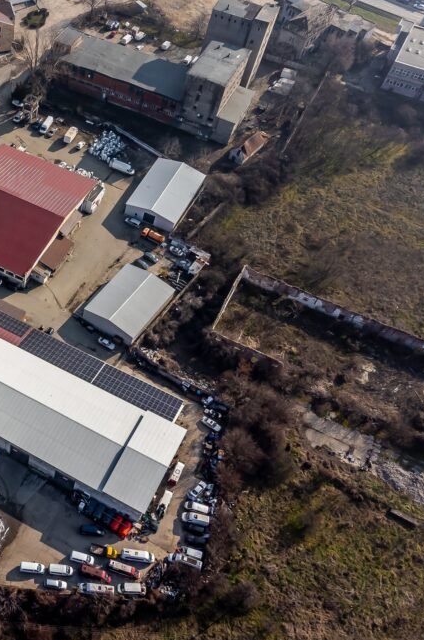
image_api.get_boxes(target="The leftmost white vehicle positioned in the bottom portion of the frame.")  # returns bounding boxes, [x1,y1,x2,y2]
[20,561,44,577]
